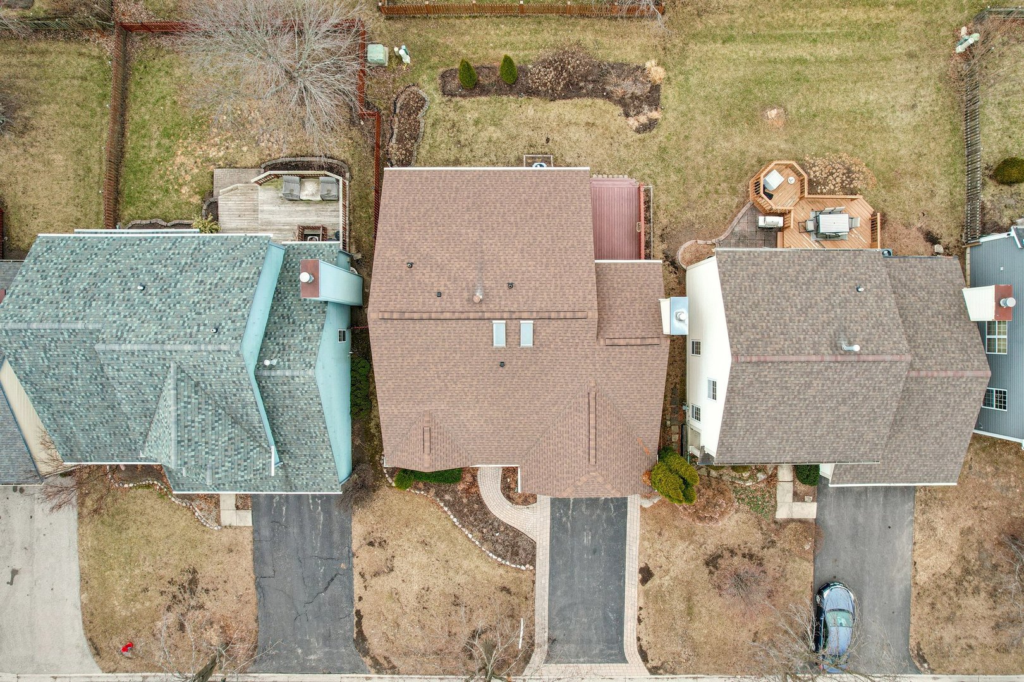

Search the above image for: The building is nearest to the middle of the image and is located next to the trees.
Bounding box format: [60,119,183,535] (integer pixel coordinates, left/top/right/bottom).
[369,165,689,500]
